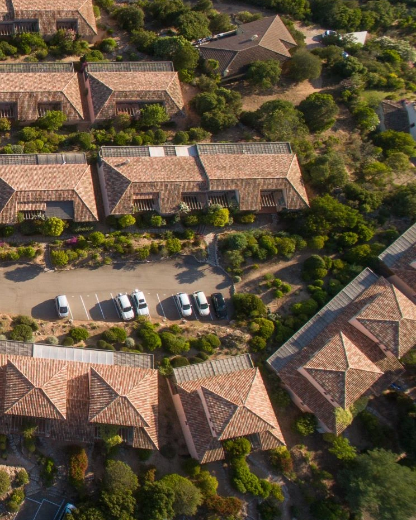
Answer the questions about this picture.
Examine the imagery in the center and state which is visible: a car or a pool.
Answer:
car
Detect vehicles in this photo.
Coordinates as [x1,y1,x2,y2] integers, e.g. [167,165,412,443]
[318,28,338,40]
[173,294,192,318]
[338,46,353,57]
[206,293,228,321]
[189,291,211,318]
[54,295,69,319]
[128,289,151,321]
[112,294,133,322]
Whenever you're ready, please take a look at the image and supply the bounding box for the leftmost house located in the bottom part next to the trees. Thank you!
[0,339,163,451]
